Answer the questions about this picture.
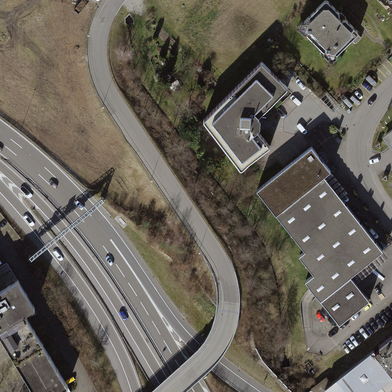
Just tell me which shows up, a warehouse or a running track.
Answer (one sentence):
I can see a warehouse in this picture.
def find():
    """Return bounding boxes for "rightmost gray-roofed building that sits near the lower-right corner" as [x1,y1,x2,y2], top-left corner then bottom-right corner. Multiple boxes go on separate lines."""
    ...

[370,334,392,378]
